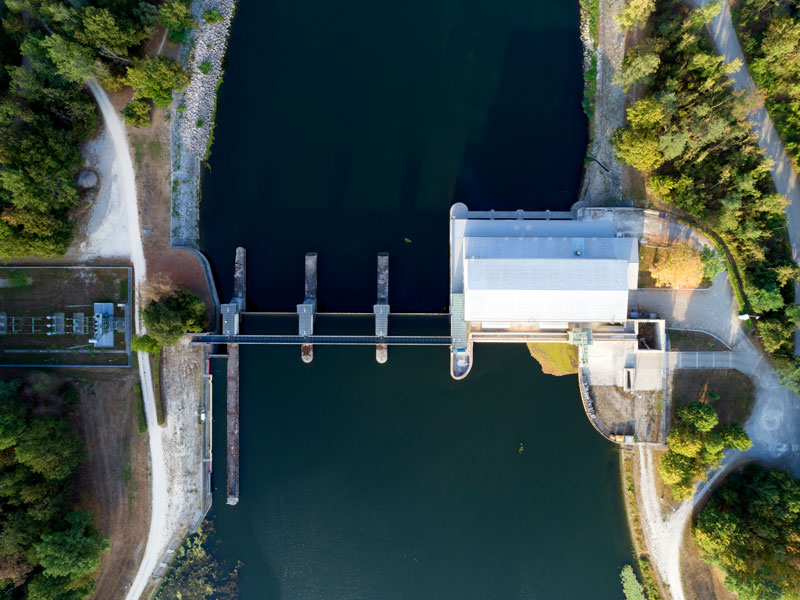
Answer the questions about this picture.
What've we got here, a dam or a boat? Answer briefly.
dam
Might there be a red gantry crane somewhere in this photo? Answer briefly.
No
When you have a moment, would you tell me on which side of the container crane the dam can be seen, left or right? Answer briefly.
left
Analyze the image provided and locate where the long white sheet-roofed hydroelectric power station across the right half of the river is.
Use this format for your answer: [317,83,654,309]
[446,203,640,380]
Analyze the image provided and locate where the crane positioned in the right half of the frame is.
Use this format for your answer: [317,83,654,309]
[566,327,593,363]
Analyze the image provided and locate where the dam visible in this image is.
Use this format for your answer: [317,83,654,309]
[209,247,448,363]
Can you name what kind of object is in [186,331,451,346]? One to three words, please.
bridge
